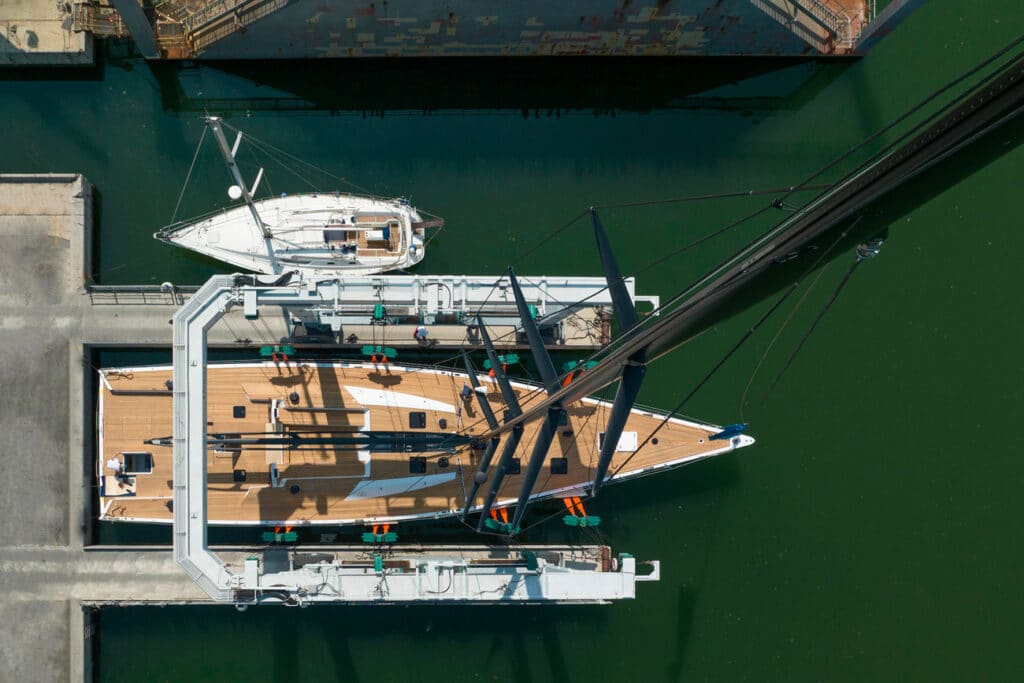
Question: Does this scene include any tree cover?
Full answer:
No, the picture contains no tree cover.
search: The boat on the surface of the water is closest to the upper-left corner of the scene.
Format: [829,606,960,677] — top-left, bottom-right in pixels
[153,104,444,276]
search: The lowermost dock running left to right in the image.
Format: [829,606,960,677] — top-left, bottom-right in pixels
[71,544,611,606]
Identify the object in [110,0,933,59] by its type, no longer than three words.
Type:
pier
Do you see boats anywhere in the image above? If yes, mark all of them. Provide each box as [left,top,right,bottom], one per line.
[98,33,1024,532]
[153,104,444,276]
